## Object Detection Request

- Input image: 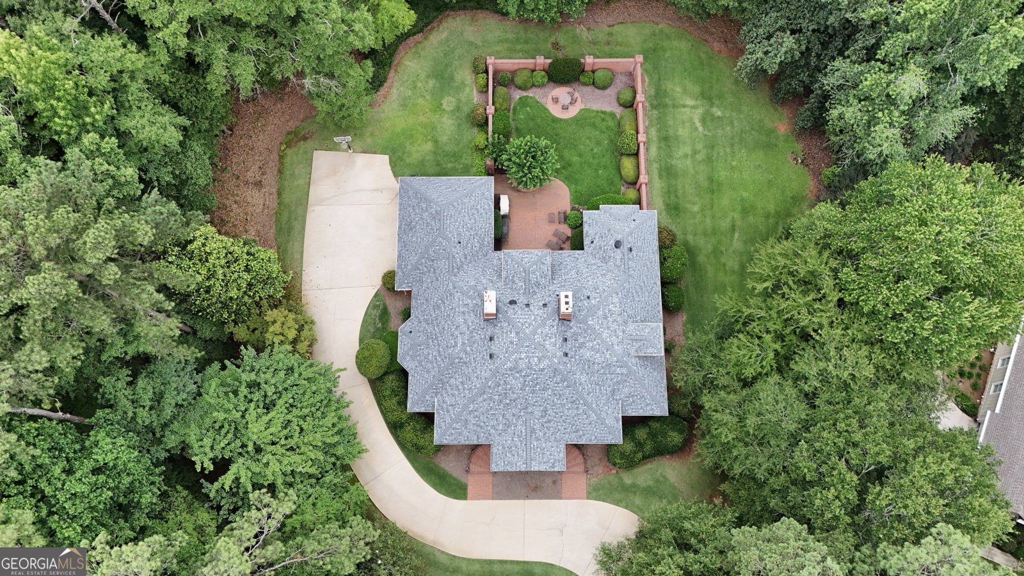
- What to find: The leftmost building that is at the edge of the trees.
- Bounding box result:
[393,176,668,473]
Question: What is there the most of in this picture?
trees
